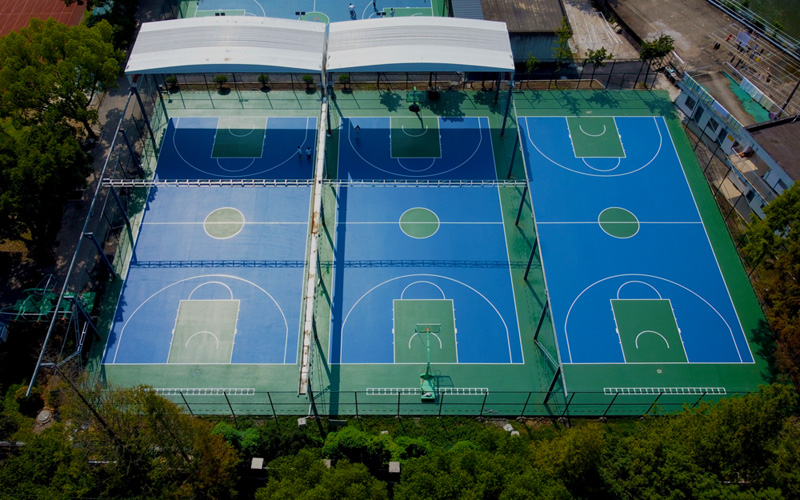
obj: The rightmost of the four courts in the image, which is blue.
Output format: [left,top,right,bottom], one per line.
[518,116,754,394]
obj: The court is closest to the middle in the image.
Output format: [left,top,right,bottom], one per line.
[328,116,523,395]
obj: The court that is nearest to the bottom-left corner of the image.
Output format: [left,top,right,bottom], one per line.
[101,116,318,395]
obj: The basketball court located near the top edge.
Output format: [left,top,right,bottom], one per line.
[195,0,432,26]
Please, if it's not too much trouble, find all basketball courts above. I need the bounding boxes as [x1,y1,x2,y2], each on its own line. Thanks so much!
[328,116,523,395]
[101,116,318,395]
[195,0,432,26]
[518,116,754,394]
